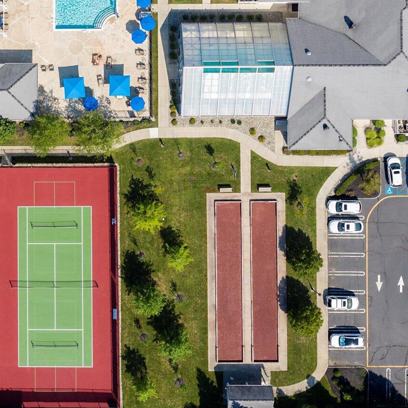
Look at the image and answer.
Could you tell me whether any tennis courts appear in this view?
Yes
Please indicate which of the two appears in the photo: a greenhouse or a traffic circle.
greenhouse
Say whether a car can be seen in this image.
Yes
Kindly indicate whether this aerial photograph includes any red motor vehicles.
No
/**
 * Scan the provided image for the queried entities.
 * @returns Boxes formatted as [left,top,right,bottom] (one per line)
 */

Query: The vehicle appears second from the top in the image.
[327,199,361,216]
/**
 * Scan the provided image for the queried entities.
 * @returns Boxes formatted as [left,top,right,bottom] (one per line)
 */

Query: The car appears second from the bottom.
[326,295,358,311]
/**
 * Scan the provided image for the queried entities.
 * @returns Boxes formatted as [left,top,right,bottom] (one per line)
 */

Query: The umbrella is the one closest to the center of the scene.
[129,96,144,111]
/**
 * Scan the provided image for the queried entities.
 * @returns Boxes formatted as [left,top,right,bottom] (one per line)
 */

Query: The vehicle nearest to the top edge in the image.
[387,157,404,187]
